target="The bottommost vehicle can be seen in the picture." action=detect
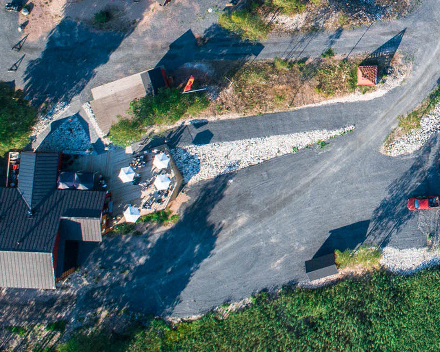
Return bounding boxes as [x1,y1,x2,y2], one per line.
[406,196,439,211]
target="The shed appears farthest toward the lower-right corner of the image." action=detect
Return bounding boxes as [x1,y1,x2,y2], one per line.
[304,252,340,280]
